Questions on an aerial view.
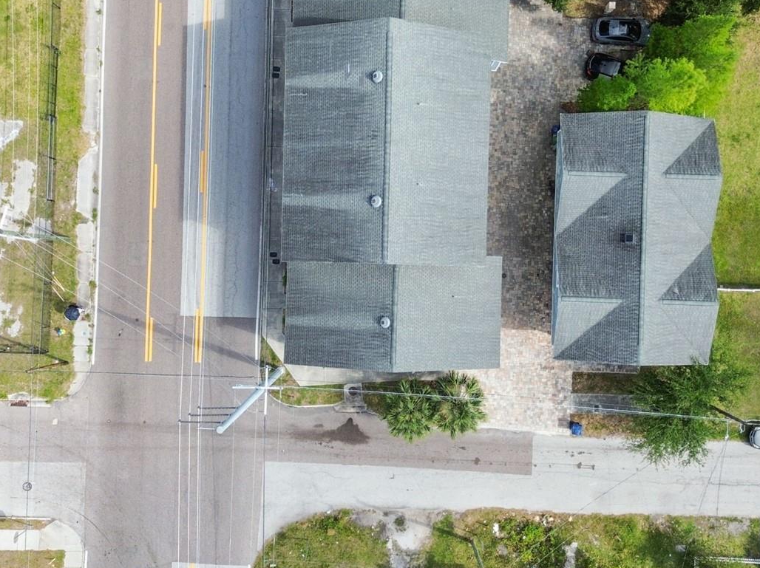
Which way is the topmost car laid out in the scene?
horizontally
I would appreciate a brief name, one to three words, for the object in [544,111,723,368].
house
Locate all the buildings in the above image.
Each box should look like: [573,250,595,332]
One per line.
[281,0,509,374]
[544,111,723,368]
